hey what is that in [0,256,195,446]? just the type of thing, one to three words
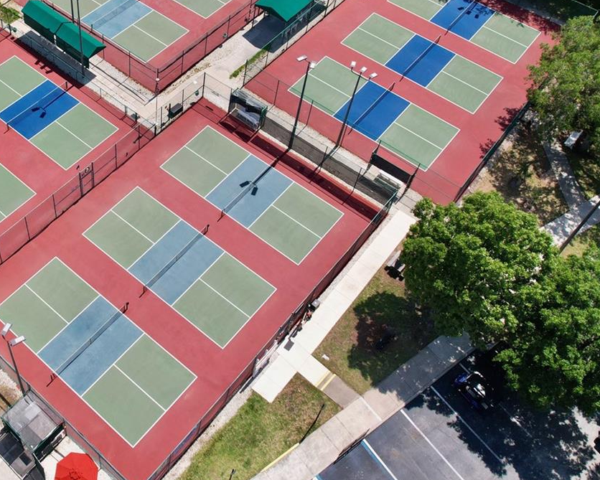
sports court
